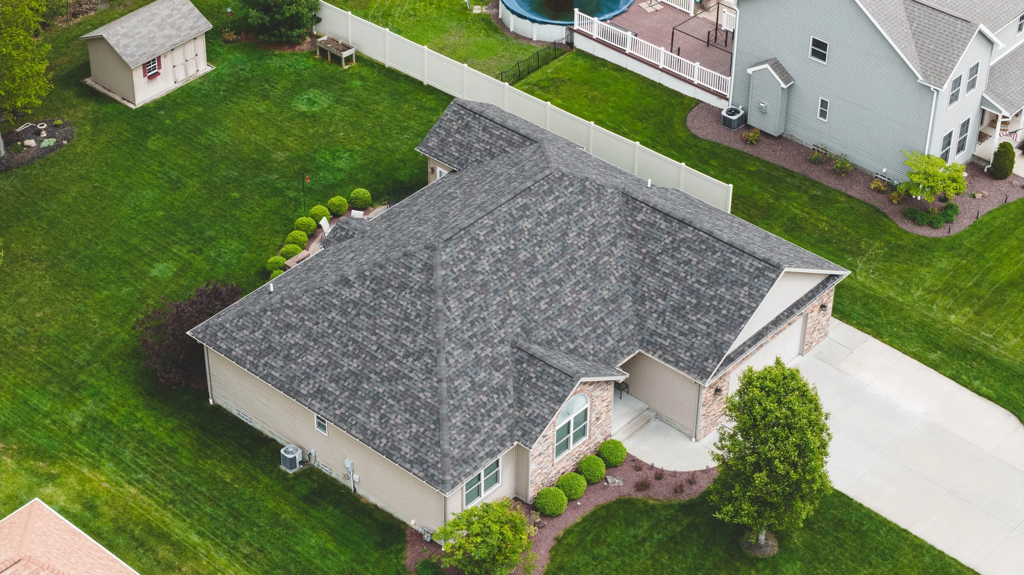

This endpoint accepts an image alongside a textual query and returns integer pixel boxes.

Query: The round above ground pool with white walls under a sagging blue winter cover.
[488,0,637,45]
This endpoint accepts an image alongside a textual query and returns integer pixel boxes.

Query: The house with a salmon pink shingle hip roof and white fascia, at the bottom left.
[0,497,142,575]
